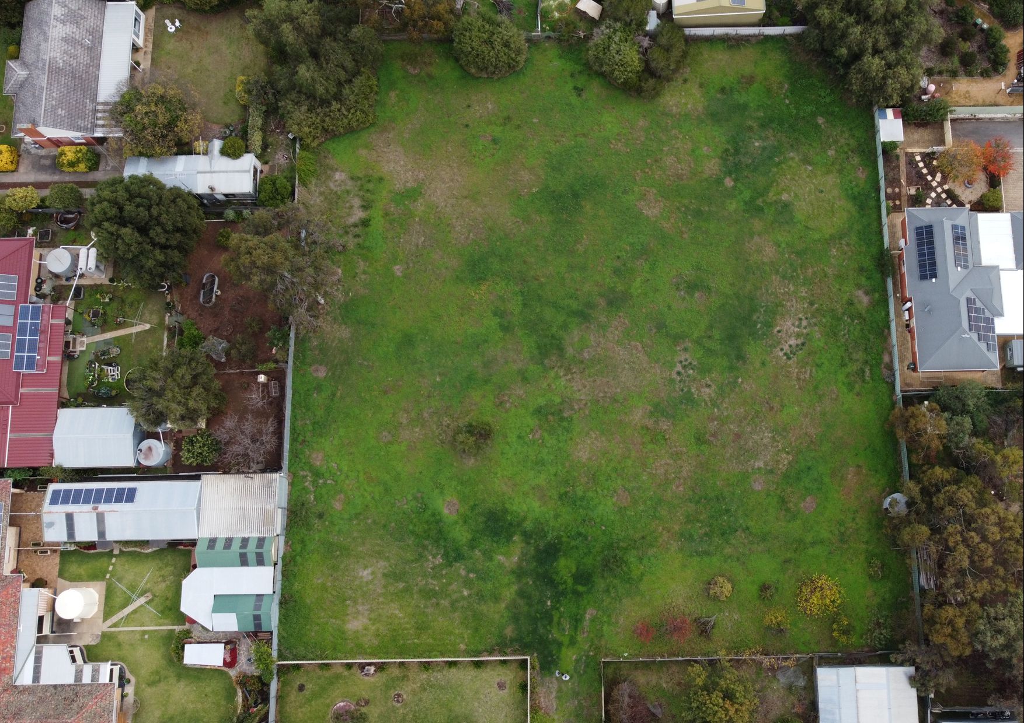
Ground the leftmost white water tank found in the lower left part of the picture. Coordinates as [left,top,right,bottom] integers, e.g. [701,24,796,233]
[55,590,98,622]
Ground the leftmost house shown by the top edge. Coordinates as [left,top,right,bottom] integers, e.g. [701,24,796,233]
[2,0,115,149]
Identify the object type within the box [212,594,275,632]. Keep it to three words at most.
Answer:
shed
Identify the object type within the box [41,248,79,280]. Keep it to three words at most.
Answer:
water tank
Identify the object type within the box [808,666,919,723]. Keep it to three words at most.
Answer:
shed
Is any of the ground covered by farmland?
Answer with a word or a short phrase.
Yes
